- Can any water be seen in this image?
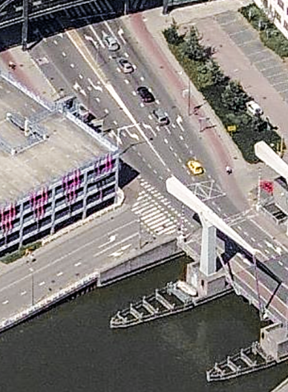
Yes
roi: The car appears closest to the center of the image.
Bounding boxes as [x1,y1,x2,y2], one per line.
[188,160,203,175]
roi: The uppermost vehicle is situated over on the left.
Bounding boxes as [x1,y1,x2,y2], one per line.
[103,36,118,51]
